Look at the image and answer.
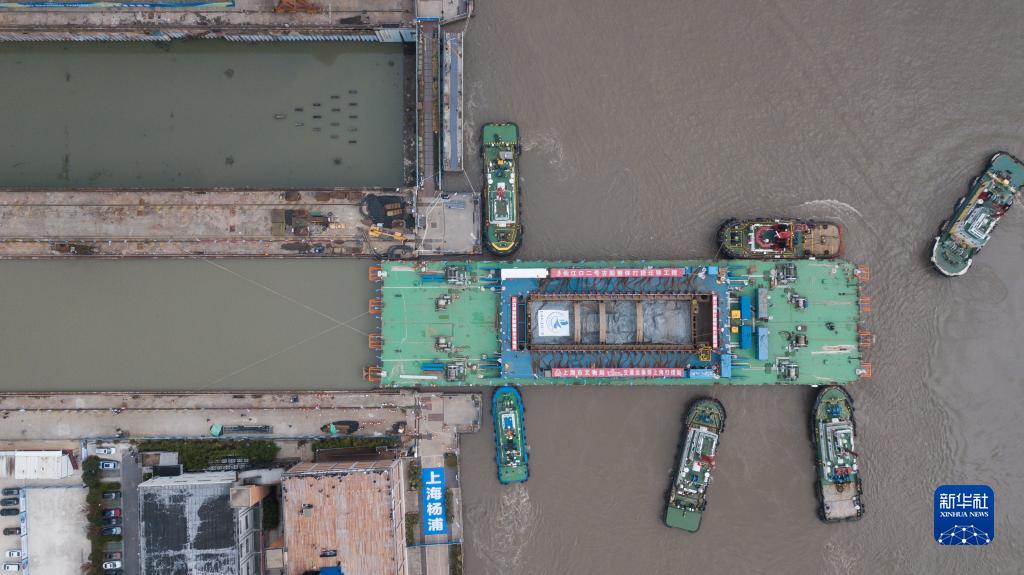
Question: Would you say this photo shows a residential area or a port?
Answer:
port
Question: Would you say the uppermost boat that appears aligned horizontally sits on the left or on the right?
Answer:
right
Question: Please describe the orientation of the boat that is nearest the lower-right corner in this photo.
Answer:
up and down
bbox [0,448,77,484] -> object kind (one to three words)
building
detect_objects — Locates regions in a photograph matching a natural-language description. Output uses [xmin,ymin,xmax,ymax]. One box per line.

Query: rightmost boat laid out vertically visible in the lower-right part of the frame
[812,386,866,521]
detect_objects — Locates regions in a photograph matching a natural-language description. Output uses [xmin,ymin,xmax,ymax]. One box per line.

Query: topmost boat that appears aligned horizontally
[719,216,843,261]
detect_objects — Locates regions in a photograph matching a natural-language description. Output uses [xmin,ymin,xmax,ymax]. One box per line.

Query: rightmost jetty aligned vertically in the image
[443,32,463,171]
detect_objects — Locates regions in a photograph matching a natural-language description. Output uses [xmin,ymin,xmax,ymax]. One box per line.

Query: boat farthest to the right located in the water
[930,147,1024,280]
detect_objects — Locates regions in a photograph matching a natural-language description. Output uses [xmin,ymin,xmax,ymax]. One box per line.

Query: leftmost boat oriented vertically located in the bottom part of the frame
[491,386,529,484]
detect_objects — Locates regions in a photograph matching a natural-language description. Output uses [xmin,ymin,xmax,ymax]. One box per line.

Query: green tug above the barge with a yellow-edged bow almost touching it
[479,123,523,256]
